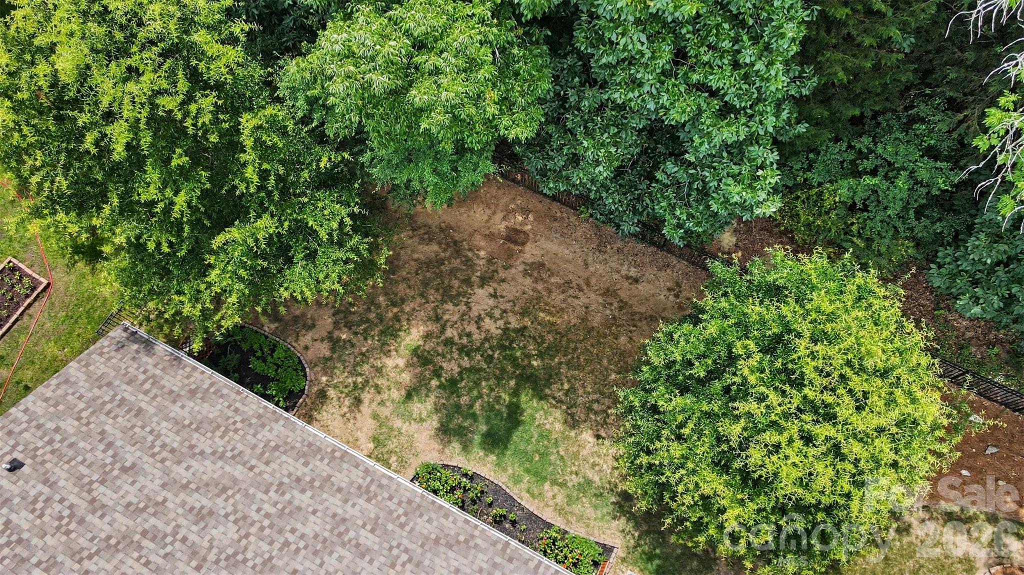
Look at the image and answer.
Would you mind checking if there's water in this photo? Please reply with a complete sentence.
No, the picture contains no water.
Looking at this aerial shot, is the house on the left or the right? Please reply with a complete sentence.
You can find the house on the left side of the picture.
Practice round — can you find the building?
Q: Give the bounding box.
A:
[0,324,569,575]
